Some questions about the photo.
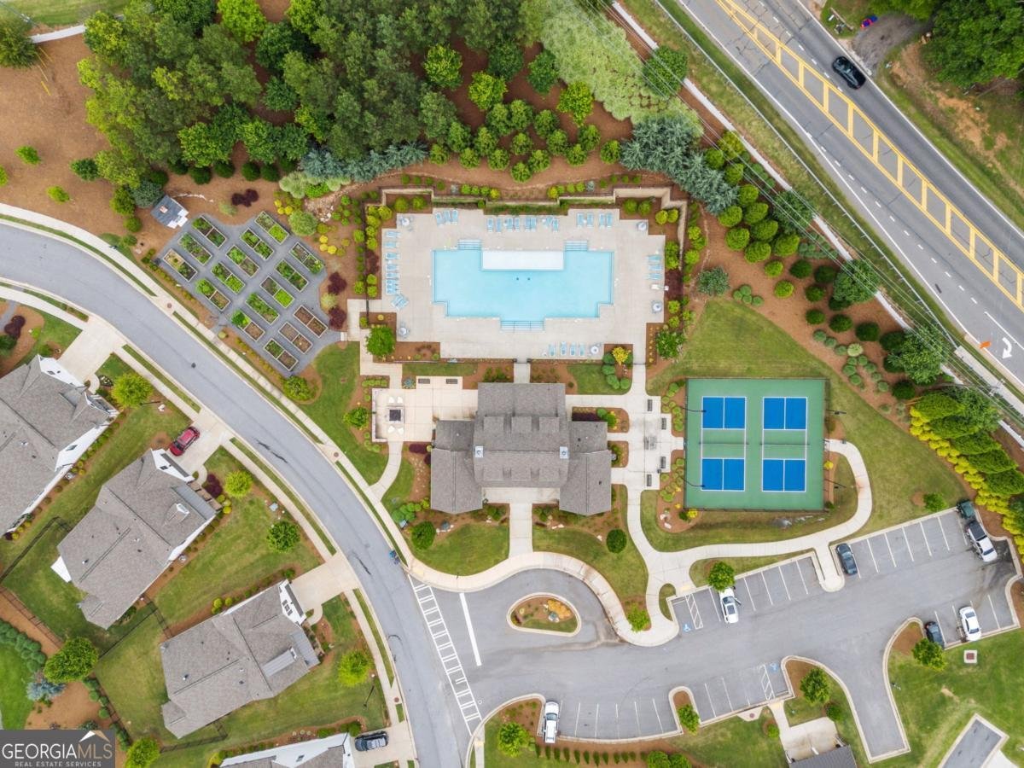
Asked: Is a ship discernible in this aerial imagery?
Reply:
No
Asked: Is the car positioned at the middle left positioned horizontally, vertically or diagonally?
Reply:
diagonally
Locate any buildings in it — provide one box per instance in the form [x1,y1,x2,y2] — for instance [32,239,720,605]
[144,190,187,235]
[49,447,229,630]
[217,732,371,768]
[790,736,862,768]
[149,581,330,739]
[431,384,611,513]
[0,355,125,544]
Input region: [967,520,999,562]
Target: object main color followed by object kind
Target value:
white truck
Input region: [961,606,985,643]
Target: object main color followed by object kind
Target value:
white car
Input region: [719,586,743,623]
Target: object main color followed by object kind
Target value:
white car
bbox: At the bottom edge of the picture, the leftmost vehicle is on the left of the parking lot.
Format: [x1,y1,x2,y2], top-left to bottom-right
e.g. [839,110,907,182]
[354,732,390,754]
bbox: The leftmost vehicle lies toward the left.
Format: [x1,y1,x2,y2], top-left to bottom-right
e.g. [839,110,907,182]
[168,425,197,458]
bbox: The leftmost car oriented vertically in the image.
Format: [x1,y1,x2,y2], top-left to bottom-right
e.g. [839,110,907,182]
[542,705,560,744]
